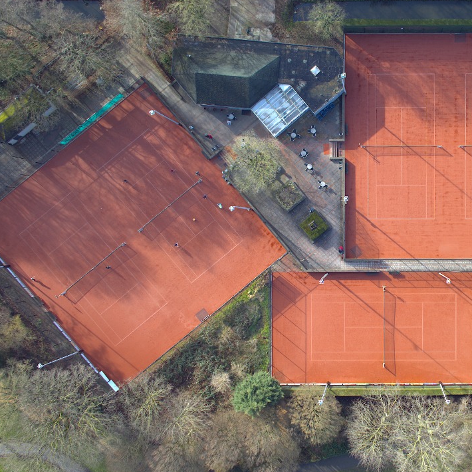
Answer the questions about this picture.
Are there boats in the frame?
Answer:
No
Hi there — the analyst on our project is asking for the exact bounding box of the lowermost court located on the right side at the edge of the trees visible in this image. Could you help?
[272,272,472,386]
